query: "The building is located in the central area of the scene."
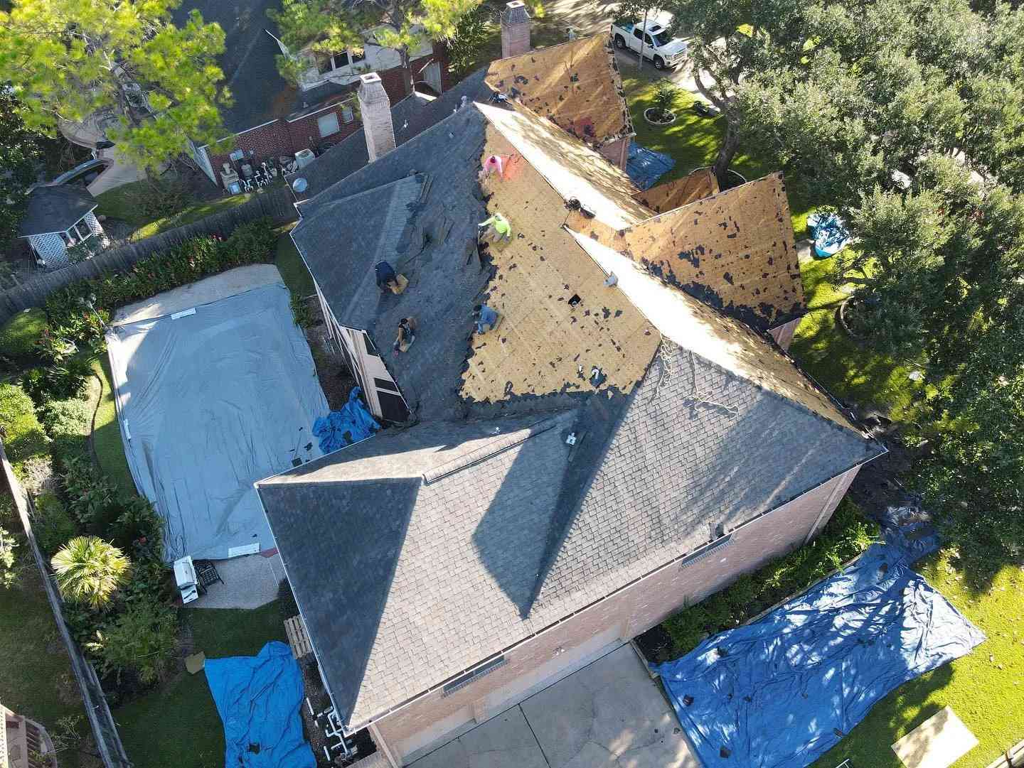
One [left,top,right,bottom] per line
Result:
[247,6,894,768]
